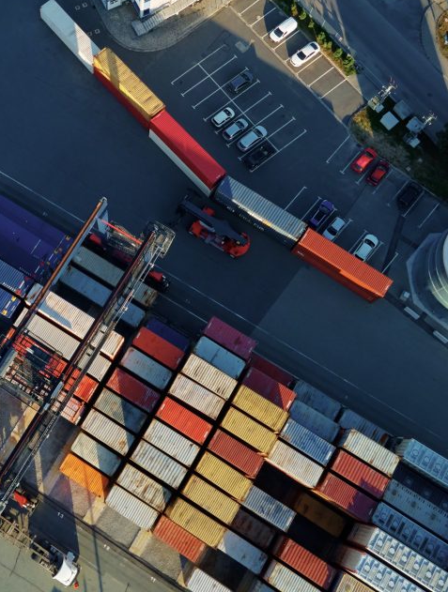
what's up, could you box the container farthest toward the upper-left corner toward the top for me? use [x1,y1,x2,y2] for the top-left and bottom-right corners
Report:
[36,0,99,72]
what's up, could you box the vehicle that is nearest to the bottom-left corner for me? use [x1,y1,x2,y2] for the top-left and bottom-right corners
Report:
[0,514,88,591]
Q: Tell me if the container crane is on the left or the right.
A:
left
